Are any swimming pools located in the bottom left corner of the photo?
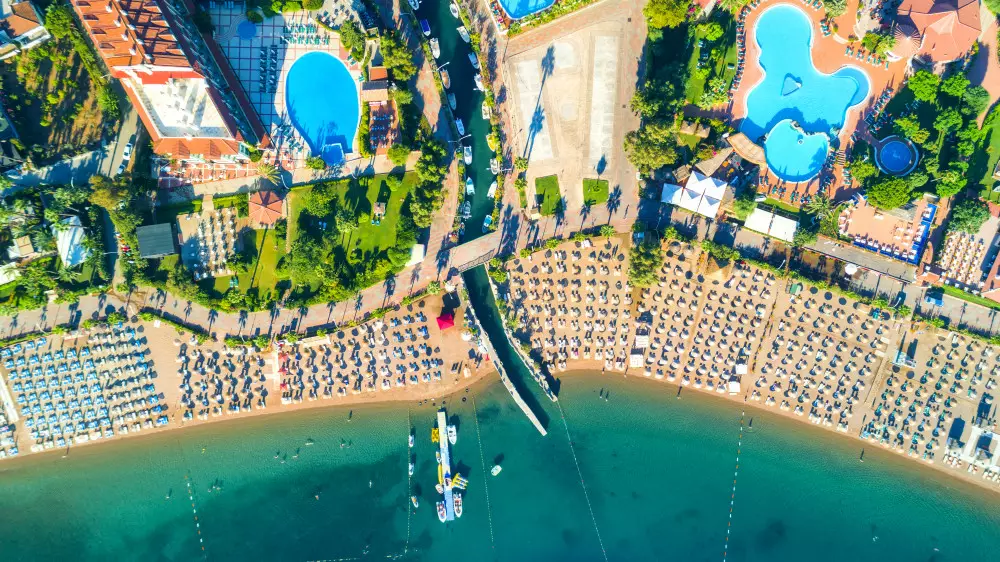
No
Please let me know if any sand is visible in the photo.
Yes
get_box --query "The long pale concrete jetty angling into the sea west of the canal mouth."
[460,272,547,436]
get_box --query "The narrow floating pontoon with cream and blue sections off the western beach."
[437,411,457,520]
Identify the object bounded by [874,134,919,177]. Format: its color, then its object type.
blue swimming pool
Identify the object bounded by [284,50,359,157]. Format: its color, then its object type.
blue swimming pool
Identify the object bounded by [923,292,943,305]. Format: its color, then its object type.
blue vehicle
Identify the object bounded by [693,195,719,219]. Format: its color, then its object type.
white tent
